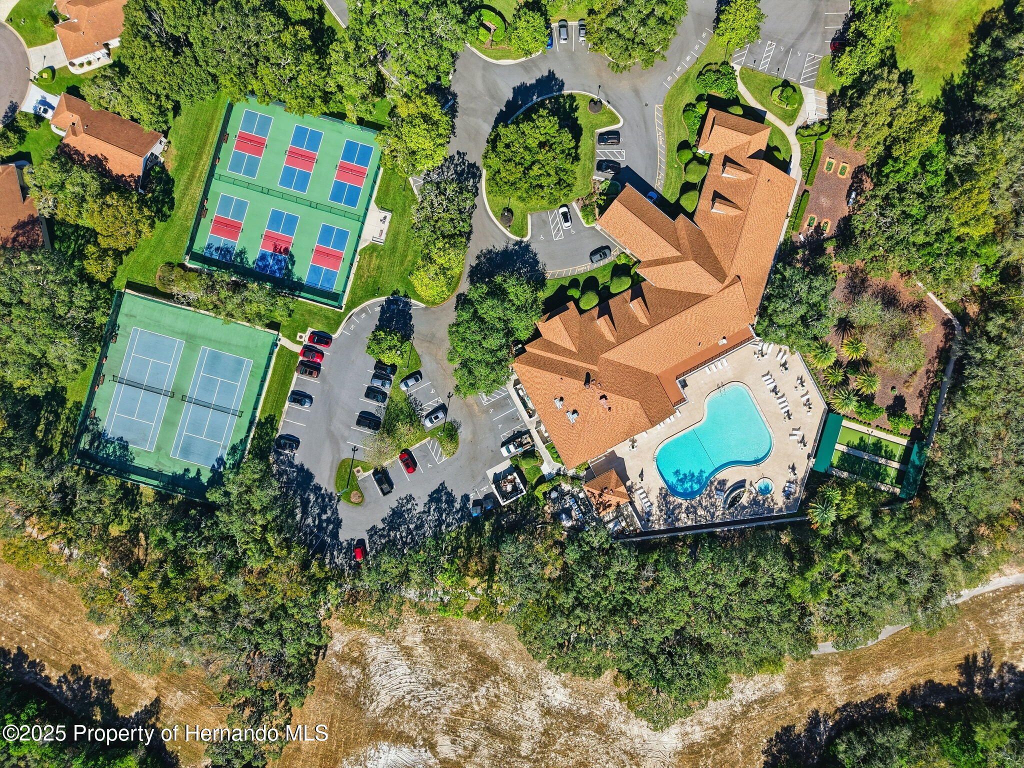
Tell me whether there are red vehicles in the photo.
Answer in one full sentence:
Yes, I can see a red vehicle in this picture.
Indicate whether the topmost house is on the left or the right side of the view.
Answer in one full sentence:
It is on the left.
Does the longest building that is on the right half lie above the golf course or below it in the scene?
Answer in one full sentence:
The longest building that is on the right half is found above the golf course in the photo.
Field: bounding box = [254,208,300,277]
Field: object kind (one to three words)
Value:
sports court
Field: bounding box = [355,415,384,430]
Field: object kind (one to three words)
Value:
vehicle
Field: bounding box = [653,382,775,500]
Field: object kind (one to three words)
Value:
swimming pool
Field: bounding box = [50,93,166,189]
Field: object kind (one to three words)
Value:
house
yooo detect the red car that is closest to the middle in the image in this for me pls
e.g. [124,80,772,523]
[400,451,416,473]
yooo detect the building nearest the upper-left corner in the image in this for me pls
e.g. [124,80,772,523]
[55,0,126,63]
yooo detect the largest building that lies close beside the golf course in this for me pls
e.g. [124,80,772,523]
[517,108,796,471]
